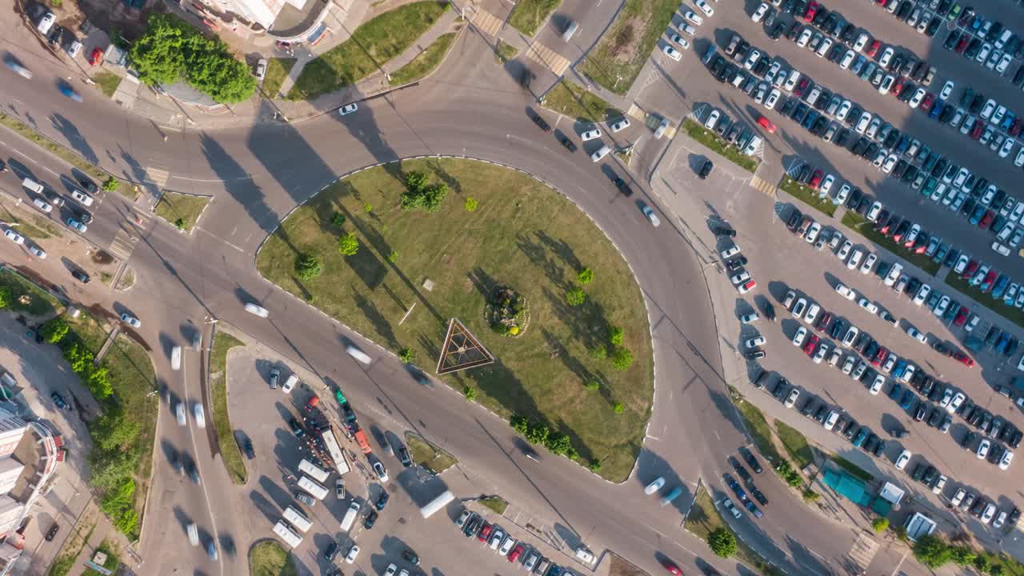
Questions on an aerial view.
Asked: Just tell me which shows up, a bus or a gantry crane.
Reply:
bus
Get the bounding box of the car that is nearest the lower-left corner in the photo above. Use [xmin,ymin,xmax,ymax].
[44,520,61,541]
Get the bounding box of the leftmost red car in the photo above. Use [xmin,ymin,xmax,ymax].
[89,46,104,67]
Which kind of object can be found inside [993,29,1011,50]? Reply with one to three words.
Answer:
car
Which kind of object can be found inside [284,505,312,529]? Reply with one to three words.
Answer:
vehicle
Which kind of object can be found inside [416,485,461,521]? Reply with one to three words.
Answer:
bus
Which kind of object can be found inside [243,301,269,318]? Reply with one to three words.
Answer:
vehicle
